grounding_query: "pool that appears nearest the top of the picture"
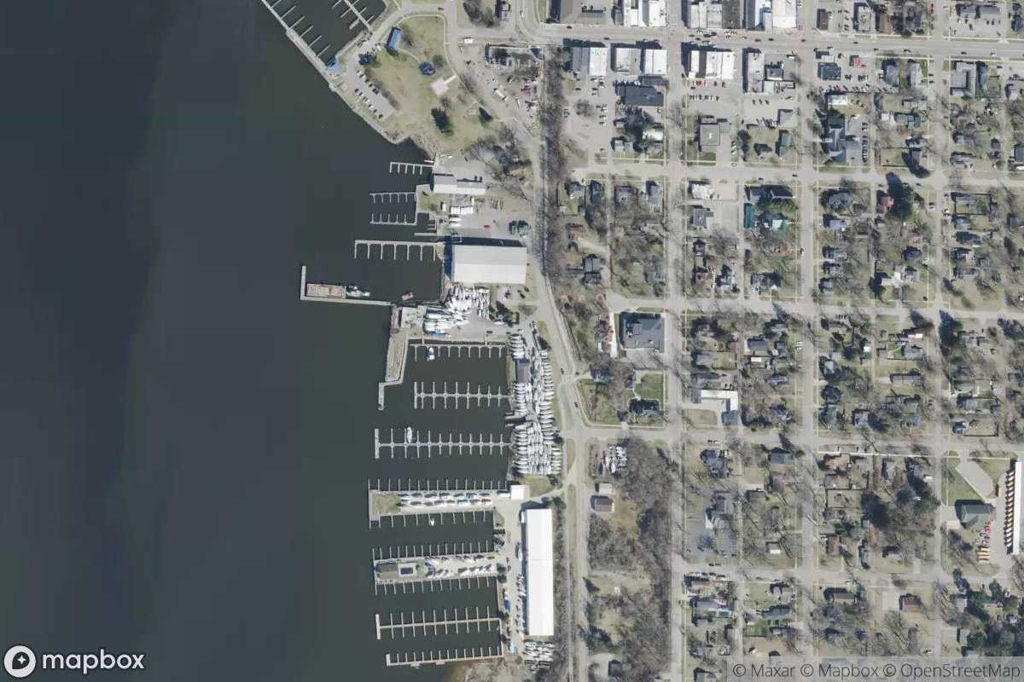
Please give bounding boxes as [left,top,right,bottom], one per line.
[398,564,417,578]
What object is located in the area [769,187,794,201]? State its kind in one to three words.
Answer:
house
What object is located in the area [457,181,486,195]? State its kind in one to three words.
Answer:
building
